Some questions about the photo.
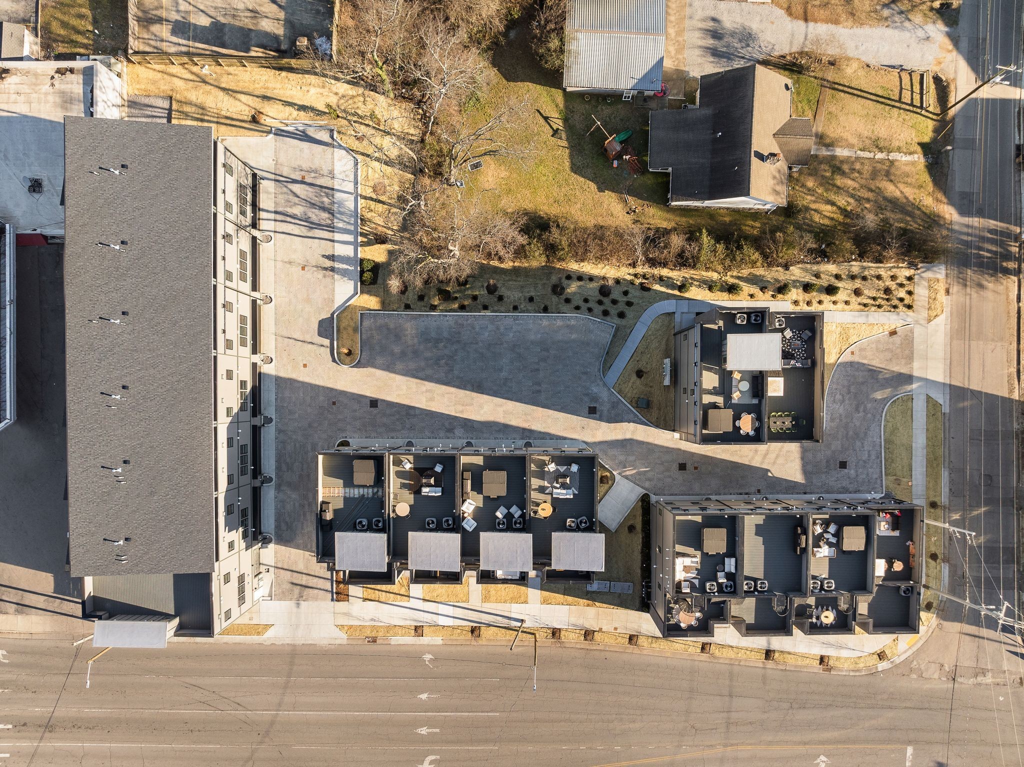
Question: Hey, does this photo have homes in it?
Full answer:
Yes, the photo shows a home.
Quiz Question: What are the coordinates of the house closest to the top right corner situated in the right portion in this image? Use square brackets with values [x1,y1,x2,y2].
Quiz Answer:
[647,64,814,209]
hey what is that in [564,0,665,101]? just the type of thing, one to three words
building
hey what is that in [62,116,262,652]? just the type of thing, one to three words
building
